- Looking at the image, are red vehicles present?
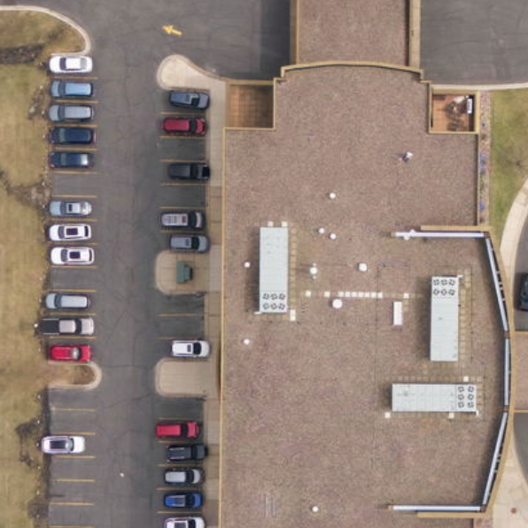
Yes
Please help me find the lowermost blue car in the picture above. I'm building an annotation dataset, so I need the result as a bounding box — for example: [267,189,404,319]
[164,490,204,511]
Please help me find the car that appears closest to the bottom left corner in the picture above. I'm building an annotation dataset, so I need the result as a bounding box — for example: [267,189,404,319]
[42,434,86,454]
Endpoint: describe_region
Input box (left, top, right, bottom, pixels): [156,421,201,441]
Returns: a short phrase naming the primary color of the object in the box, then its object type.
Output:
red car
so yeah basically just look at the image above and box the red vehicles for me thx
[162,114,206,135]
[156,421,201,441]
[50,343,94,364]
